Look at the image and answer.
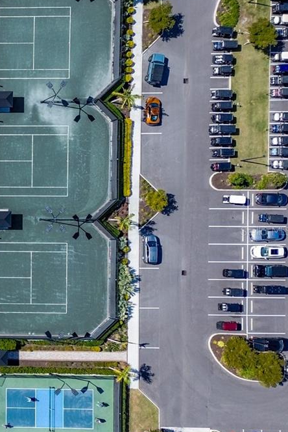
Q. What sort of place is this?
sports ground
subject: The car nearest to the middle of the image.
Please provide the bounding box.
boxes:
[141,234,158,265]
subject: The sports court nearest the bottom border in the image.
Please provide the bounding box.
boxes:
[0,378,115,432]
